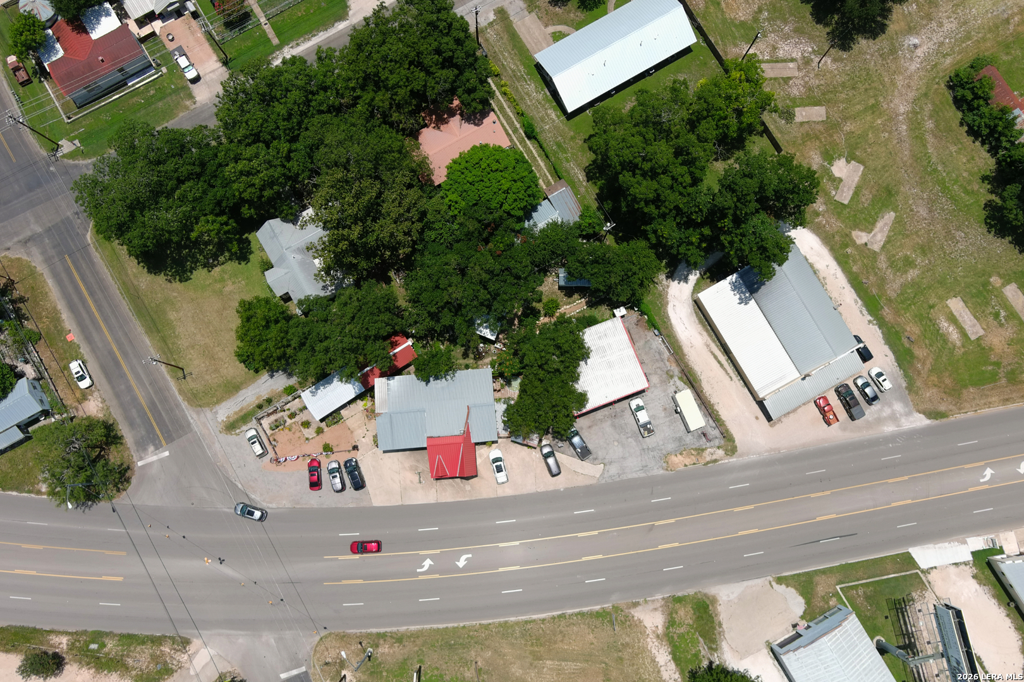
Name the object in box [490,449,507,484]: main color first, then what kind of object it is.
white car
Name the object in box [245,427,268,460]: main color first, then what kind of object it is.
white car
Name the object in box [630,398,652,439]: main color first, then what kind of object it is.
white truck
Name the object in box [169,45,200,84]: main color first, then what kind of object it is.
white truck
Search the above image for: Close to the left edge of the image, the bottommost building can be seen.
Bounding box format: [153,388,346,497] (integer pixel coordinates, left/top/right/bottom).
[0,377,52,451]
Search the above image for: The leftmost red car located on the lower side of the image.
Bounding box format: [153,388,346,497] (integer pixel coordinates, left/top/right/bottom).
[306,458,323,492]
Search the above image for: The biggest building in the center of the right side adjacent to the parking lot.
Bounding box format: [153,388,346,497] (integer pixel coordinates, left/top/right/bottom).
[693,243,871,421]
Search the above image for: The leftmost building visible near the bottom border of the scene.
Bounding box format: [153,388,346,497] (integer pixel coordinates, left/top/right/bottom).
[769,602,897,682]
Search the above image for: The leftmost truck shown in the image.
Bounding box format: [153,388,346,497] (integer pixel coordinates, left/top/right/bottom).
[6,53,32,87]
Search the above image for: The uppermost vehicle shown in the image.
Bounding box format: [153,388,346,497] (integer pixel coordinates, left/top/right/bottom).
[182,0,204,21]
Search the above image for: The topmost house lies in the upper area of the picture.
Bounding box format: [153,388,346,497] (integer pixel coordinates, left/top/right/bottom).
[121,0,179,32]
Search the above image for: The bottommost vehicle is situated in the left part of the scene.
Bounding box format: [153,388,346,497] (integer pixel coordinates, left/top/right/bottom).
[350,539,383,556]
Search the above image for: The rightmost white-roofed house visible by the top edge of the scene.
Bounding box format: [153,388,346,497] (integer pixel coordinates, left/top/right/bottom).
[535,0,697,116]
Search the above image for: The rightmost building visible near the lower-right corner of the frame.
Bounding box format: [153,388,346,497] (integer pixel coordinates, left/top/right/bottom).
[992,555,1024,624]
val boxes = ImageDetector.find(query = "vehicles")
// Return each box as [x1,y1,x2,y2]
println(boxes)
[813,394,838,426]
[325,459,345,494]
[306,458,323,492]
[867,366,891,394]
[490,449,507,484]
[6,53,32,87]
[235,501,269,523]
[344,457,365,492]
[182,0,204,21]
[245,427,268,460]
[350,539,383,556]
[630,398,652,439]
[853,331,876,366]
[835,384,865,422]
[541,443,560,477]
[169,45,200,84]
[564,426,592,463]
[70,358,93,389]
[853,375,878,406]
